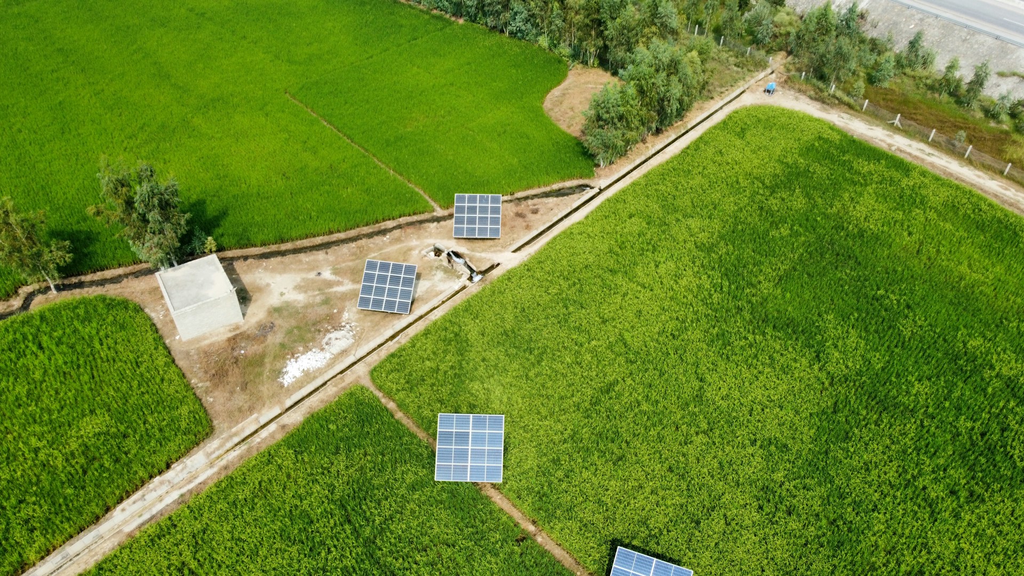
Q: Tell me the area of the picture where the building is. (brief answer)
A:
left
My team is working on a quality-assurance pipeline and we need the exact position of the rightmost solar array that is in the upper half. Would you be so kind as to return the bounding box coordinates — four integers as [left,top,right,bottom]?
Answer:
[453,194,501,238]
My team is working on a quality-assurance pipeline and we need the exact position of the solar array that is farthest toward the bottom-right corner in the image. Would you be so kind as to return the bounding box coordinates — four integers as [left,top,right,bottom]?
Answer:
[610,546,693,576]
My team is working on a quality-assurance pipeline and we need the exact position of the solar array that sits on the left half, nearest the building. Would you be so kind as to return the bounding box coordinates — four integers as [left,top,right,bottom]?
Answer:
[357,259,417,314]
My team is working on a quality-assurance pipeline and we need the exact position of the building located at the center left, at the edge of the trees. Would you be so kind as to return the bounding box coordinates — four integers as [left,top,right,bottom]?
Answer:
[155,255,243,342]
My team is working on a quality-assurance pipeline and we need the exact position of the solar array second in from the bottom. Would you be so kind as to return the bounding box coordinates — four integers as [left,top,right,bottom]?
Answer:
[435,413,504,482]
